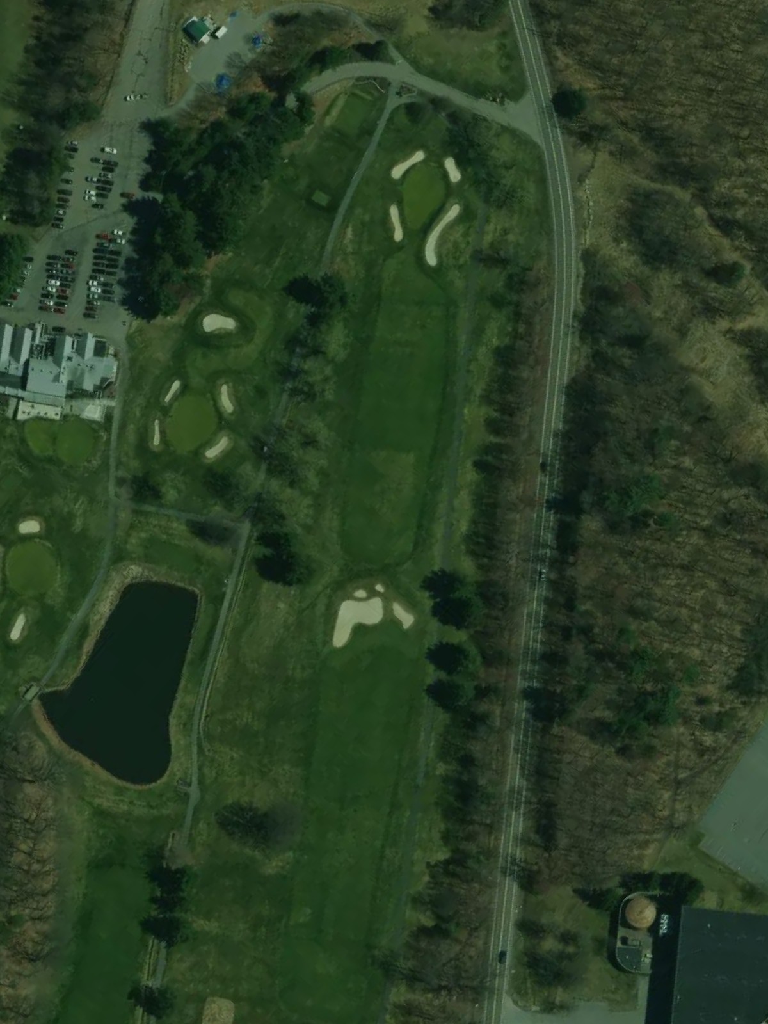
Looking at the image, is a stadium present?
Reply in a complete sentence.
No, the frame has no stadium in it.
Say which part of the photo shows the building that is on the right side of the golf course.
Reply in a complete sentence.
The building that is on the right side of the golf course appears toward the bottom right of the photo.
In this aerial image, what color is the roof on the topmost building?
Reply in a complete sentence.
The color of the roof on the topmost building is green.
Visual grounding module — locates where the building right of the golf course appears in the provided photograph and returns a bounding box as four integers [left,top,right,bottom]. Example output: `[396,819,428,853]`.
[666,904,768,1024]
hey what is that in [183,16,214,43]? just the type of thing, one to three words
building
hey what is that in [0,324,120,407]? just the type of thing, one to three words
building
